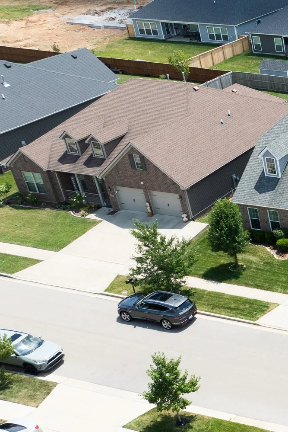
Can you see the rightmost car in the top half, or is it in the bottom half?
bottom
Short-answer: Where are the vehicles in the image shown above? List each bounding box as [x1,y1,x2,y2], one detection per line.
[0,418,42,432]
[112,289,195,330]
[0,327,63,374]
